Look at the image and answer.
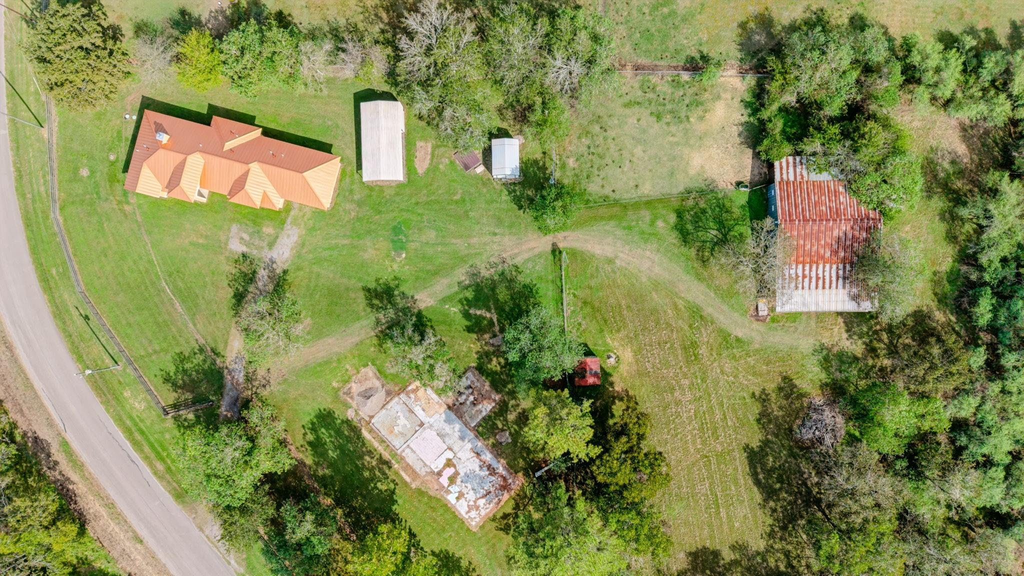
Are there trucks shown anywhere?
No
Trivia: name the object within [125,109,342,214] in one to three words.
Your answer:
house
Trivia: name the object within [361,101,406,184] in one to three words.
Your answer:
shed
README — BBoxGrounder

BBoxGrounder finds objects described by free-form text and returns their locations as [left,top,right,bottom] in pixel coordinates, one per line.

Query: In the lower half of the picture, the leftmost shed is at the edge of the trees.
[574,357,601,386]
